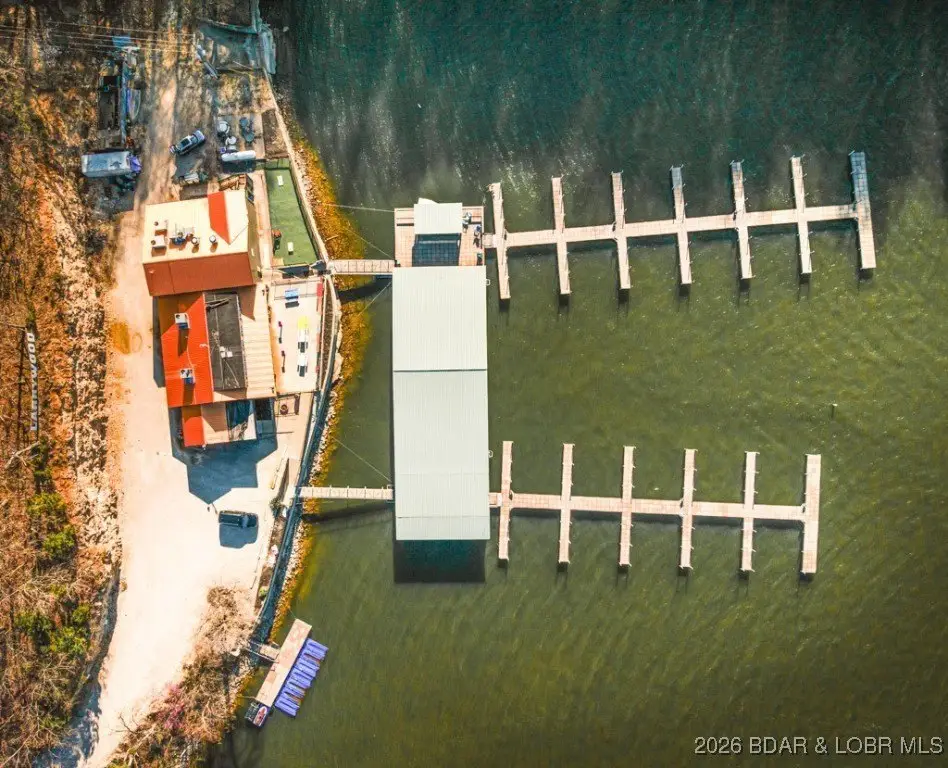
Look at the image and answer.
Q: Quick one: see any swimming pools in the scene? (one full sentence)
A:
No, I can't see a single swimming pool in this photo.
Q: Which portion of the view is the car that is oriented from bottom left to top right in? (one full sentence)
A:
Look in the top left portion of the view to spot the car that is oriented from bottom left to top right.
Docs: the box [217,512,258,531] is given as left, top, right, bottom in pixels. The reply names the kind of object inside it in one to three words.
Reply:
car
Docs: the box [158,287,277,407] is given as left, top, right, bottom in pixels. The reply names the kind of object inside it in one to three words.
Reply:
building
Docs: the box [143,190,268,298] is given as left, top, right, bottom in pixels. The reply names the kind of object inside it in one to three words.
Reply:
building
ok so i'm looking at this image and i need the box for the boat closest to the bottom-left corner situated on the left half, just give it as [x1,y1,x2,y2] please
[253,703,266,726]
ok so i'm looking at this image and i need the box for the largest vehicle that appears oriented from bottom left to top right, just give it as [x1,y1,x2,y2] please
[167,127,206,156]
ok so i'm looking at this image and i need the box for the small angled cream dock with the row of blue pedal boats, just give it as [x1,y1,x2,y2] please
[255,618,314,708]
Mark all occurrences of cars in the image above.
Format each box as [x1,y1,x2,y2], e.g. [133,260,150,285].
[217,512,258,531]
[167,127,206,156]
